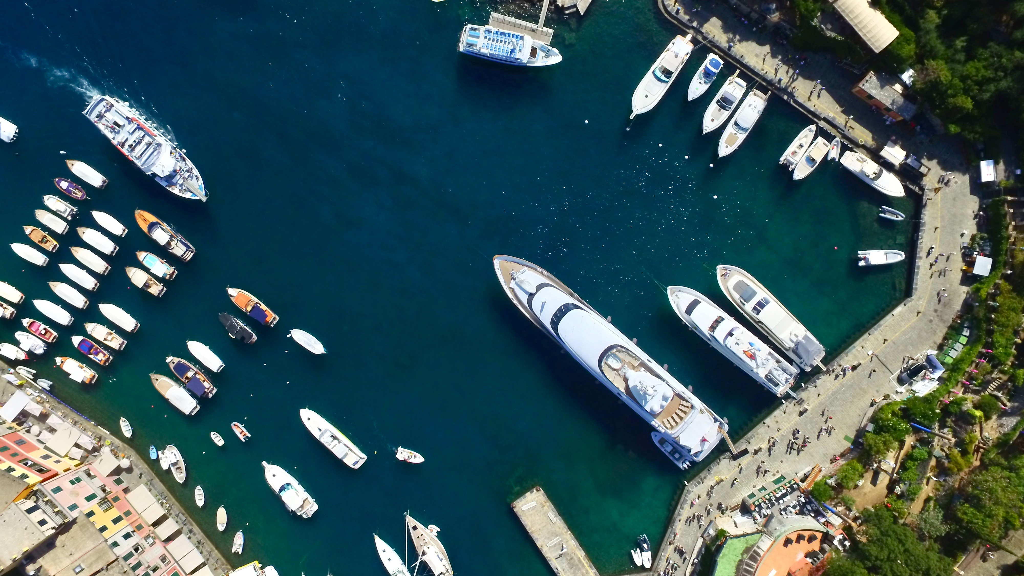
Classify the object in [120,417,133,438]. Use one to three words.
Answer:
boat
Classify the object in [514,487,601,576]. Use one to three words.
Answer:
pier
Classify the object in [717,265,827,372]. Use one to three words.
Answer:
boat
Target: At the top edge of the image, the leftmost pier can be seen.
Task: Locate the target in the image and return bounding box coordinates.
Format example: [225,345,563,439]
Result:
[489,0,554,45]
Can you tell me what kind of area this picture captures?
port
